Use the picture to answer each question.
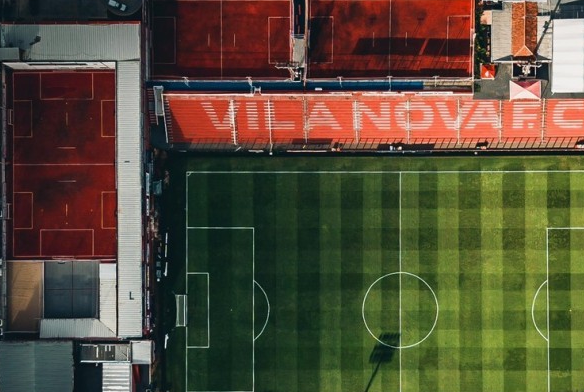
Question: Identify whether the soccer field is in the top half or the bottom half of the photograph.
bottom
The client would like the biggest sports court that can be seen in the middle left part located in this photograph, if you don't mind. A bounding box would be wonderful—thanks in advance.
[9,65,117,258]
